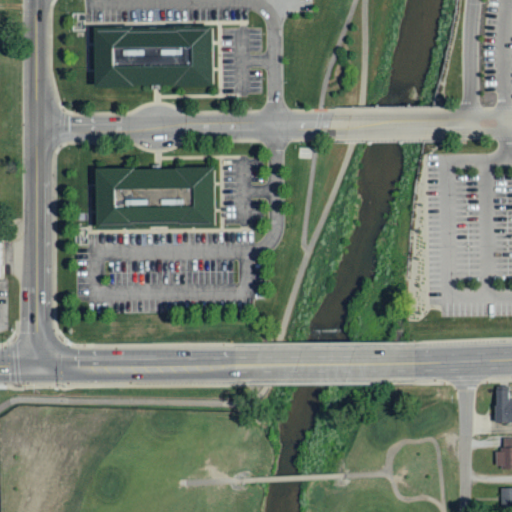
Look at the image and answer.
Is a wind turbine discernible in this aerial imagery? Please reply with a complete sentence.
No, there isn't any wind turbine down there.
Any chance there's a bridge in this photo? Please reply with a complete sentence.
Yes, this view includes a bridge.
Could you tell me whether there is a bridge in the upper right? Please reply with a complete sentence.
Yes, a bridge shows up in the upper right.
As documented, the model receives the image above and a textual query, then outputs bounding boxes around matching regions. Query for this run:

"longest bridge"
[230,342,416,387]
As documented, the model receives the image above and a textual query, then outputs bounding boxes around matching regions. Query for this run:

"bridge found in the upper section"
[331,104,447,144]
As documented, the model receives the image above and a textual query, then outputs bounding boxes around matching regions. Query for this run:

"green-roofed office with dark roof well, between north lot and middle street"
[94,26,214,89]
